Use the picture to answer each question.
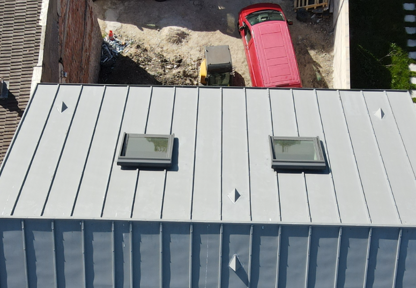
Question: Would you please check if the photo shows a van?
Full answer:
Yes, the frame does contain a van.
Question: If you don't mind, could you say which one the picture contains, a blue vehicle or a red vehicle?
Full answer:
The one in the frame is a red vehicle.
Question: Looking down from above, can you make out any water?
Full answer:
No, no water is visible.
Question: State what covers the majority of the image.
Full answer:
For the most part, this view shows buildings.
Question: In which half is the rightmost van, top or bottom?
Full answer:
Seen from above, the rightmost van lies in the top half of the view.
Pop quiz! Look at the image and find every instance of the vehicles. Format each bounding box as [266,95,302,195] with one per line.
[200,45,235,84]
[235,4,300,86]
